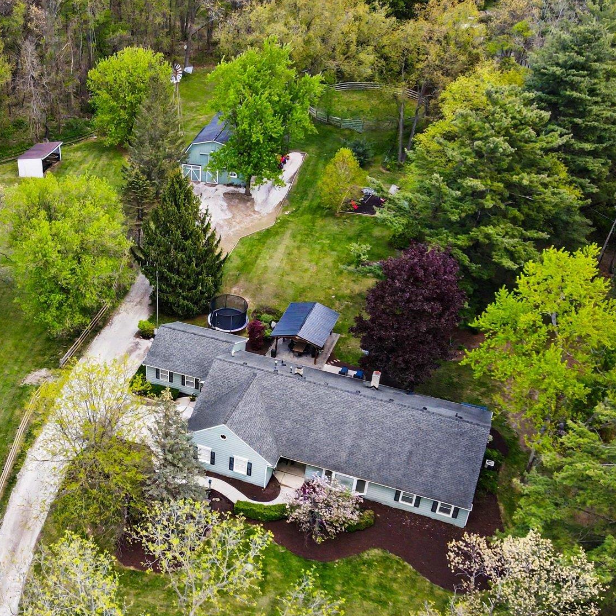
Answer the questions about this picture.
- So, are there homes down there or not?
Yes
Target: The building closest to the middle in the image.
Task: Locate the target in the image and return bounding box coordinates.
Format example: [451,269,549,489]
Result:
[268,298,341,368]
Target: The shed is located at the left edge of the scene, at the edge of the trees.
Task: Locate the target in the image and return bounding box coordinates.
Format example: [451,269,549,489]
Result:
[15,141,57,178]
